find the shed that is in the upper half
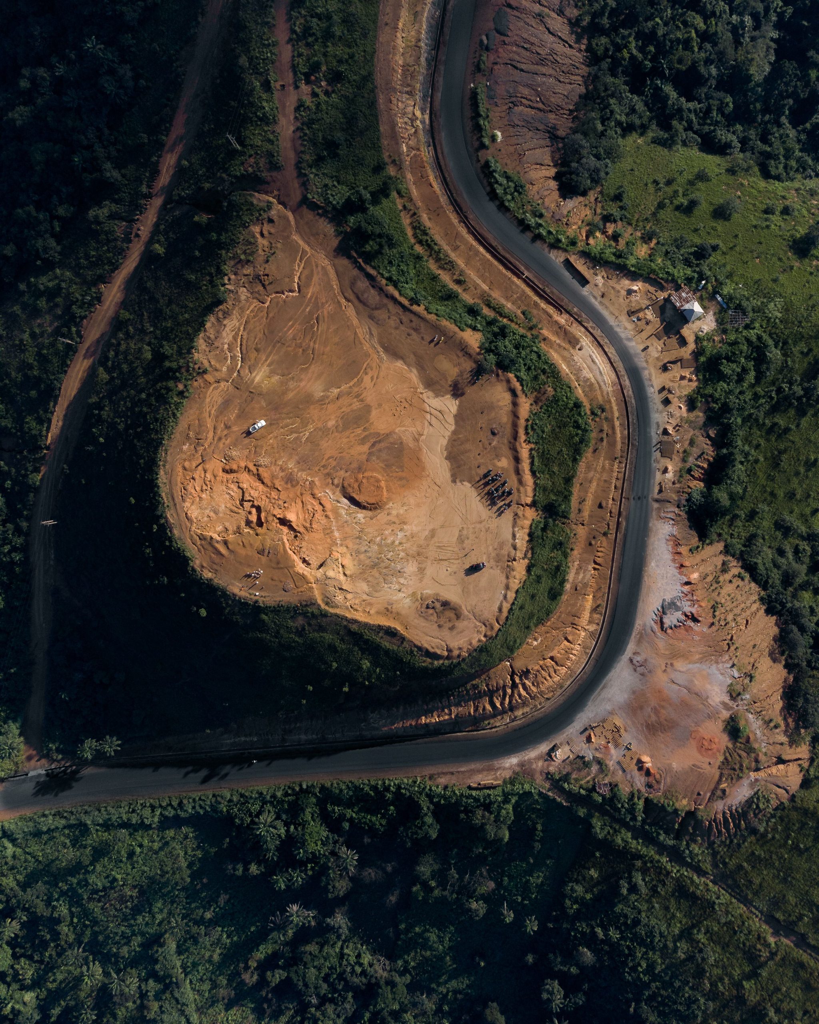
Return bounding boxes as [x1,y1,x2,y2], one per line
[668,286,707,322]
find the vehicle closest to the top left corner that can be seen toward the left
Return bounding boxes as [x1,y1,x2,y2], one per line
[247,419,267,435]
